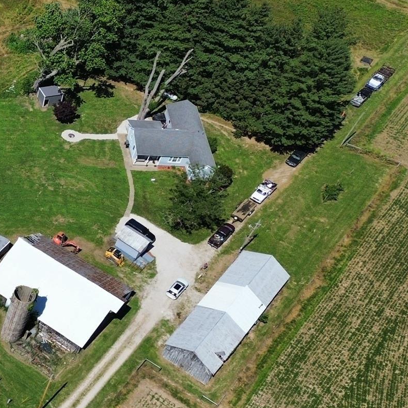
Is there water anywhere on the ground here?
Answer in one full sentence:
No, there's no water in this view.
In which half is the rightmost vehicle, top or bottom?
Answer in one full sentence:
The rightmost vehicle sits in the top half of the picture.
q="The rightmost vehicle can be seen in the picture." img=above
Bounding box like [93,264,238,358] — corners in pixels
[367,68,394,88]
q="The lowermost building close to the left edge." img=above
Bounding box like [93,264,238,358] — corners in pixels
[0,234,138,354]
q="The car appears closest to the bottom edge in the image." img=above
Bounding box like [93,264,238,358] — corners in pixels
[167,277,191,298]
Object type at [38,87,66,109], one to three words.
shed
